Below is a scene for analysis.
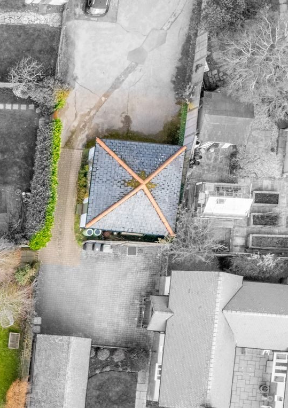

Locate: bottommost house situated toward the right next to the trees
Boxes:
[139,270,288,408]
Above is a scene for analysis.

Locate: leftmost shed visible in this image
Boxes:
[29,334,92,408]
